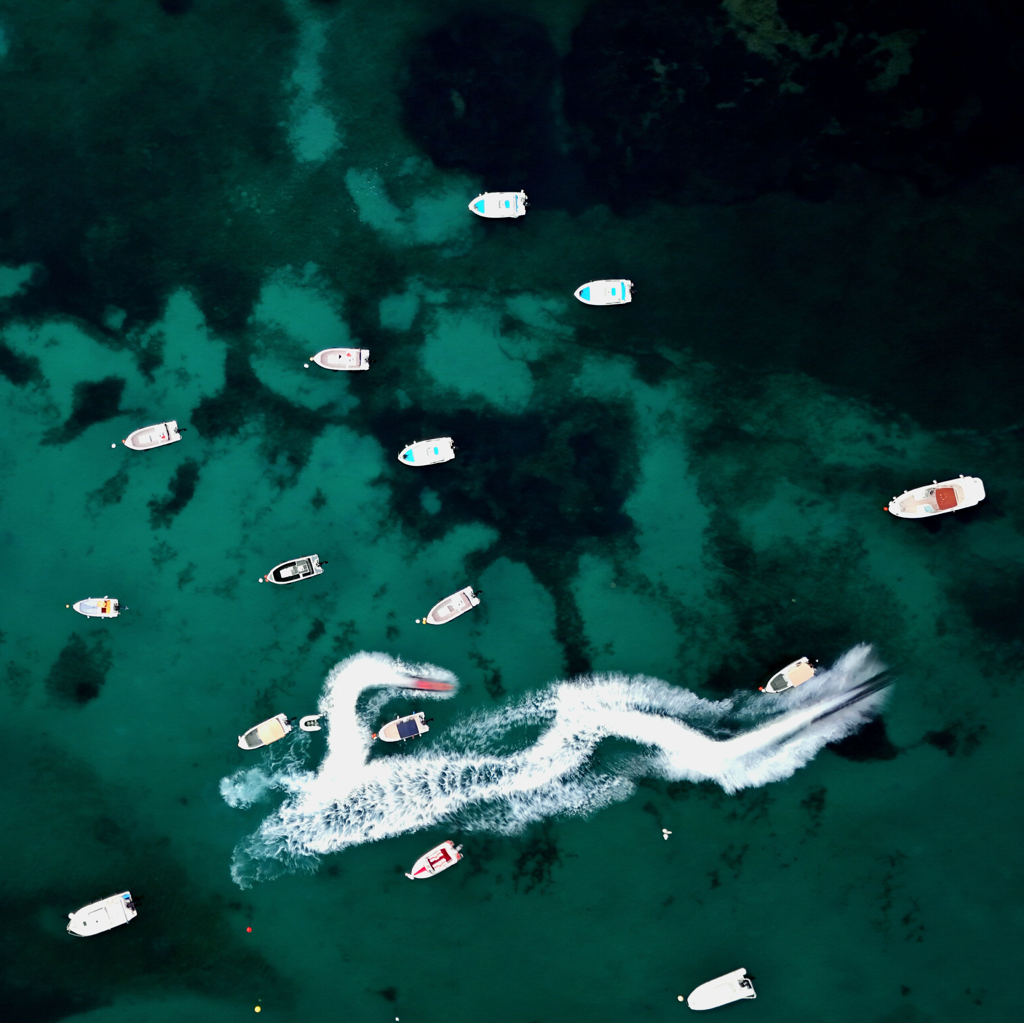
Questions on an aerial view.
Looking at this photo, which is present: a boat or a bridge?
boat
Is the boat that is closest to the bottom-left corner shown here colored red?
No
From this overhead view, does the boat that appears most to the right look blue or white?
white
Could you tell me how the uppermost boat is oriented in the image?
horizontally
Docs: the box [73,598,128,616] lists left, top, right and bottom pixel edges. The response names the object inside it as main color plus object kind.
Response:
white boat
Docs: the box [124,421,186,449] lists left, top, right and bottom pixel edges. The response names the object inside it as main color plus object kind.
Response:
white boat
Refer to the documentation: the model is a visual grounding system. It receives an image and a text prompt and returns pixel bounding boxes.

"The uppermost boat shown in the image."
[468,192,530,218]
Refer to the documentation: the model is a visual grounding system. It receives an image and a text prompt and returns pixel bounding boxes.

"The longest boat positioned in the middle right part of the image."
[890,478,985,516]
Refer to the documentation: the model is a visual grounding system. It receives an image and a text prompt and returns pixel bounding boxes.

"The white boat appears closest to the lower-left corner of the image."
[67,889,141,937]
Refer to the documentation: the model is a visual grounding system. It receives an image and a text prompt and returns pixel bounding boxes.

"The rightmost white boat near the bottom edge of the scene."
[686,968,757,1010]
